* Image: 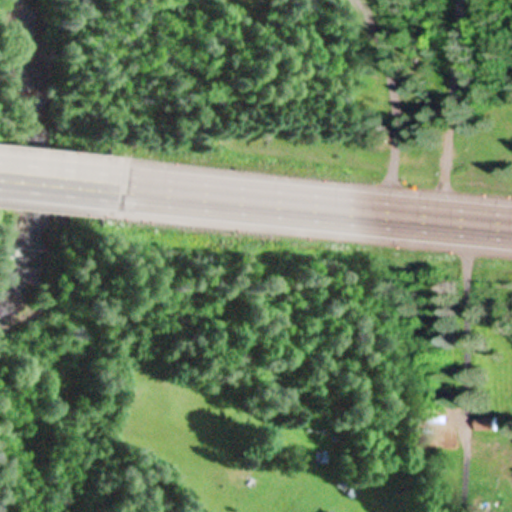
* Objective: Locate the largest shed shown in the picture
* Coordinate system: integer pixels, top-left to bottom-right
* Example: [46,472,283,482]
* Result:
[472,417,494,434]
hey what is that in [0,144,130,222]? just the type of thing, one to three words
bridge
